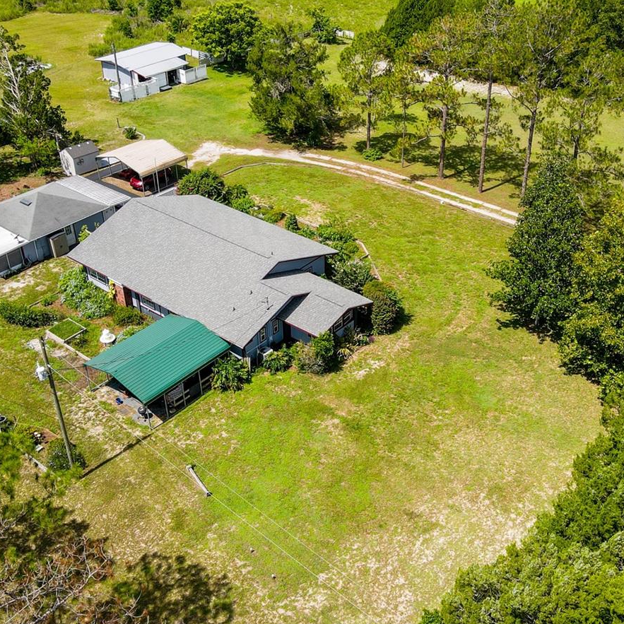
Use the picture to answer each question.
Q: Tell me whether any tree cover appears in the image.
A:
Yes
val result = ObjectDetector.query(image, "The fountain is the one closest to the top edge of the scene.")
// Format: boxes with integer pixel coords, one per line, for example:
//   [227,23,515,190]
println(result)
[97,327,115,346]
